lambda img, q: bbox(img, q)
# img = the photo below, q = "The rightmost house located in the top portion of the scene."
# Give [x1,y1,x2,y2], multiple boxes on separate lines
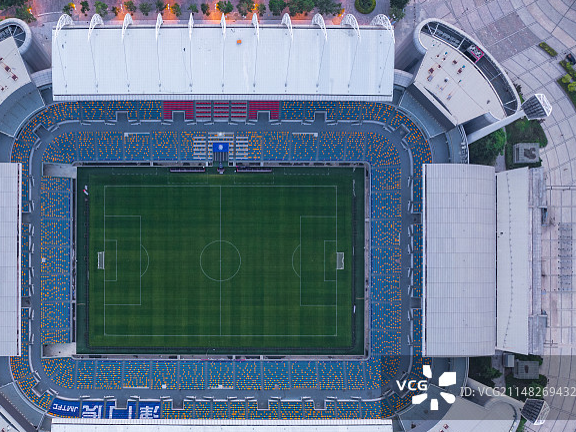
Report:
[510,142,540,165]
